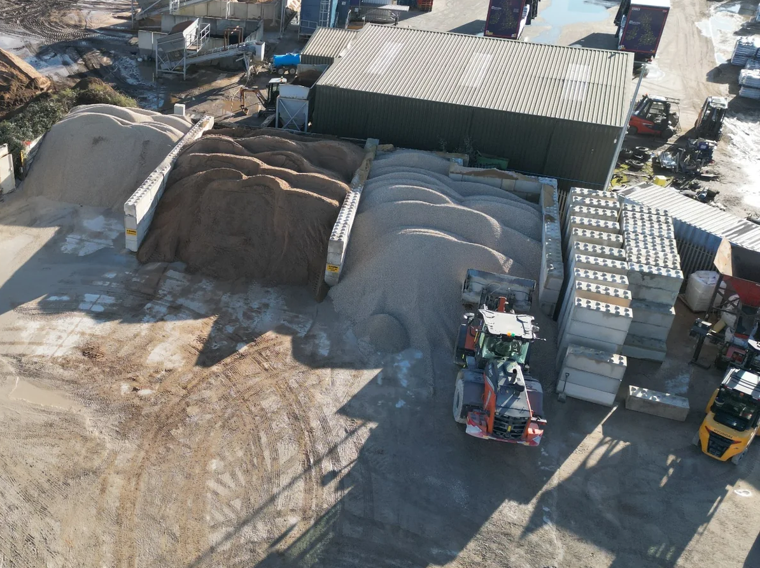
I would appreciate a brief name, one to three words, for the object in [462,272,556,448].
work vehicle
